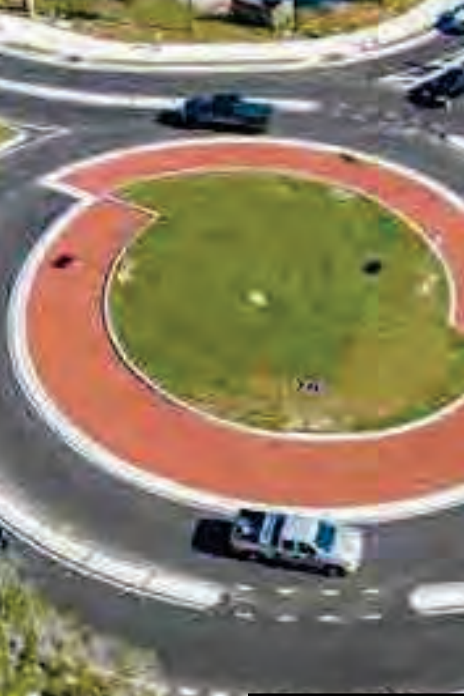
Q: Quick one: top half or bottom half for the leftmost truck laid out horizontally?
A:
top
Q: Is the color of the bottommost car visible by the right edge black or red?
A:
black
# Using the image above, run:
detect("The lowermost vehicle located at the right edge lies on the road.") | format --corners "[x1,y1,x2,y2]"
[409,62,464,104]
